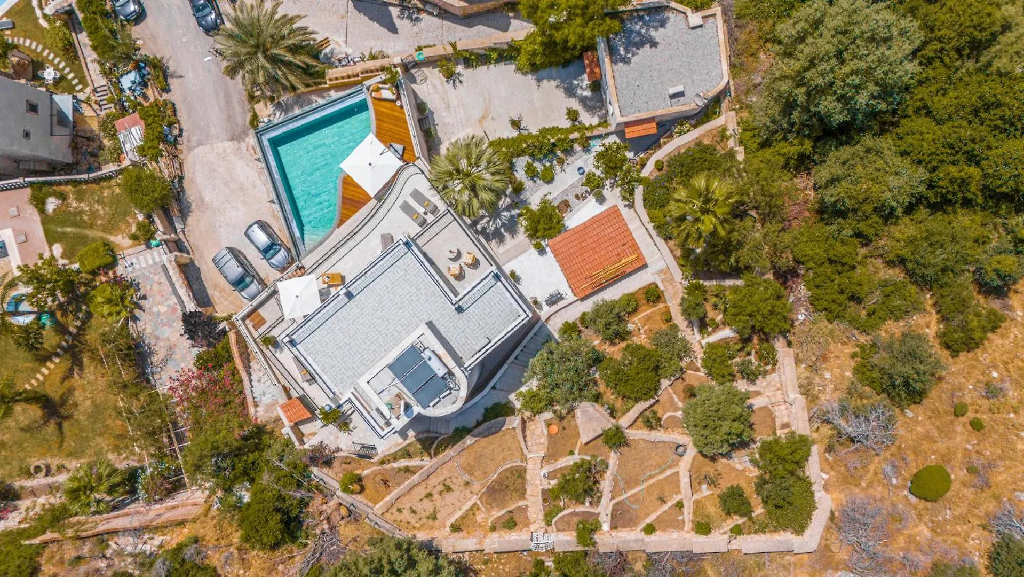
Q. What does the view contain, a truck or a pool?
pool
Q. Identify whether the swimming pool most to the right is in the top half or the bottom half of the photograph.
top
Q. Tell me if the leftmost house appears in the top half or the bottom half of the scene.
top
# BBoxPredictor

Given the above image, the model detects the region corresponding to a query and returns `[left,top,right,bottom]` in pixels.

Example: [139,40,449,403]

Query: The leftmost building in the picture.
[0,74,76,183]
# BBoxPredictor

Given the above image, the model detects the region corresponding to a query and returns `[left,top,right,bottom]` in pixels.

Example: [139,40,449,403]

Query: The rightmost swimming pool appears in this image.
[255,84,379,262]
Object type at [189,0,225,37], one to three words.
car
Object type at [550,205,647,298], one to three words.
building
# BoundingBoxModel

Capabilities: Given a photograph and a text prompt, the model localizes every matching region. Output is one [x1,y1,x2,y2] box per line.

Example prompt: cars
[189,0,225,37]
[245,217,292,273]
[108,0,145,24]
[213,241,264,304]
